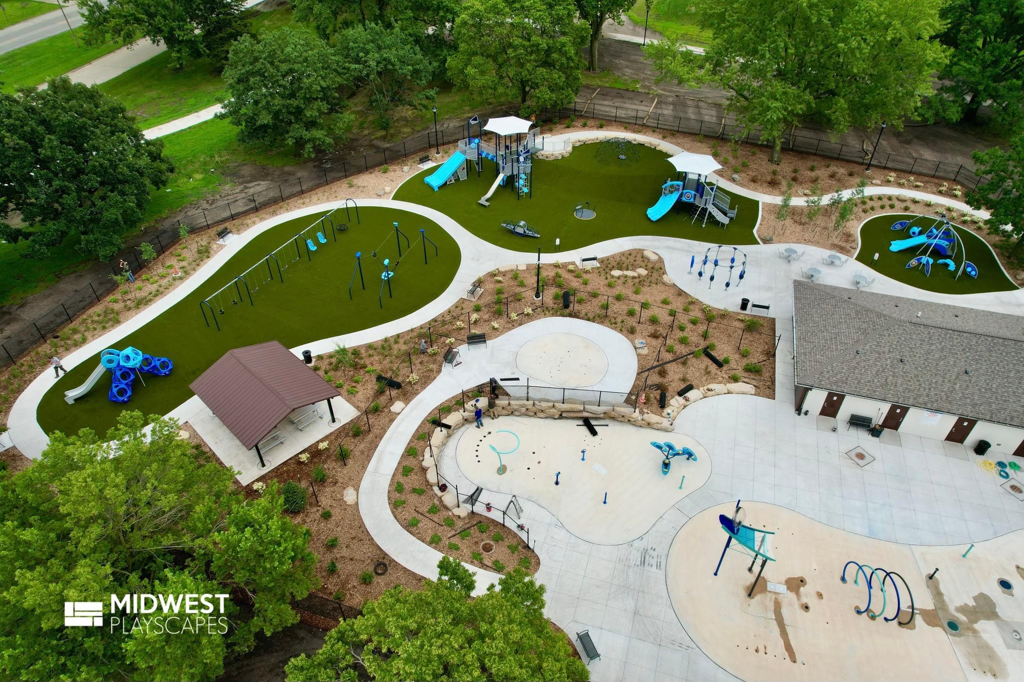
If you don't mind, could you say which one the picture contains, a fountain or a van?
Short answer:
fountain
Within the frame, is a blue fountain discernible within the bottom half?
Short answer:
Yes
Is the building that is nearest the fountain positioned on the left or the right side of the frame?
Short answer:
right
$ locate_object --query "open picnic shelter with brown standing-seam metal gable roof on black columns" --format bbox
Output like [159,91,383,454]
[188,343,348,469]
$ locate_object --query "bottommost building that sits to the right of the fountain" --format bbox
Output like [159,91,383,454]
[793,280,1024,455]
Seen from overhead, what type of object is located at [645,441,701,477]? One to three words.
fountain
